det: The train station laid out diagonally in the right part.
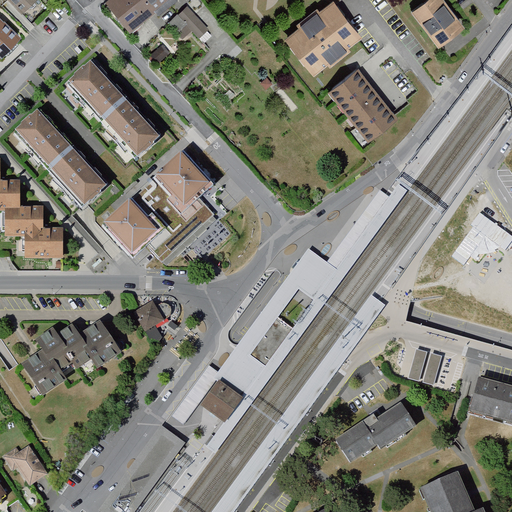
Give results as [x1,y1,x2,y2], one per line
[155,25,512,512]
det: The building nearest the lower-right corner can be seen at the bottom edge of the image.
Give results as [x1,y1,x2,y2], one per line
[418,470,487,512]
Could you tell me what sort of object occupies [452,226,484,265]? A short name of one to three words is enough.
shed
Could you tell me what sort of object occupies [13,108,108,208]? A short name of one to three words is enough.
house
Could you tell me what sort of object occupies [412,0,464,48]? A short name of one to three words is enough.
house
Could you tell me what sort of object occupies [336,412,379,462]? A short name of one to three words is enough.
building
